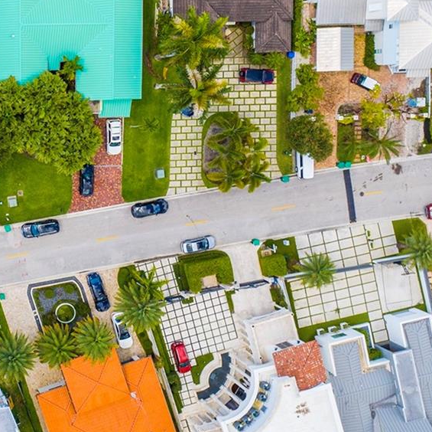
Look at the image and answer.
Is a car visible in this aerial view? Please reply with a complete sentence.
Yes, the image includes a car.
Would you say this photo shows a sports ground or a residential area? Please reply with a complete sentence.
This image shows a residential area.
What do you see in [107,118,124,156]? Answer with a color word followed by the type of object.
white car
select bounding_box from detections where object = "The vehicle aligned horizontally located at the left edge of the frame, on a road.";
[22,220,61,241]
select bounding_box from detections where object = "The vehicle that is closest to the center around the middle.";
[181,236,218,255]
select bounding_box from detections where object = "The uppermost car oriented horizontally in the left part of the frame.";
[130,200,171,219]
